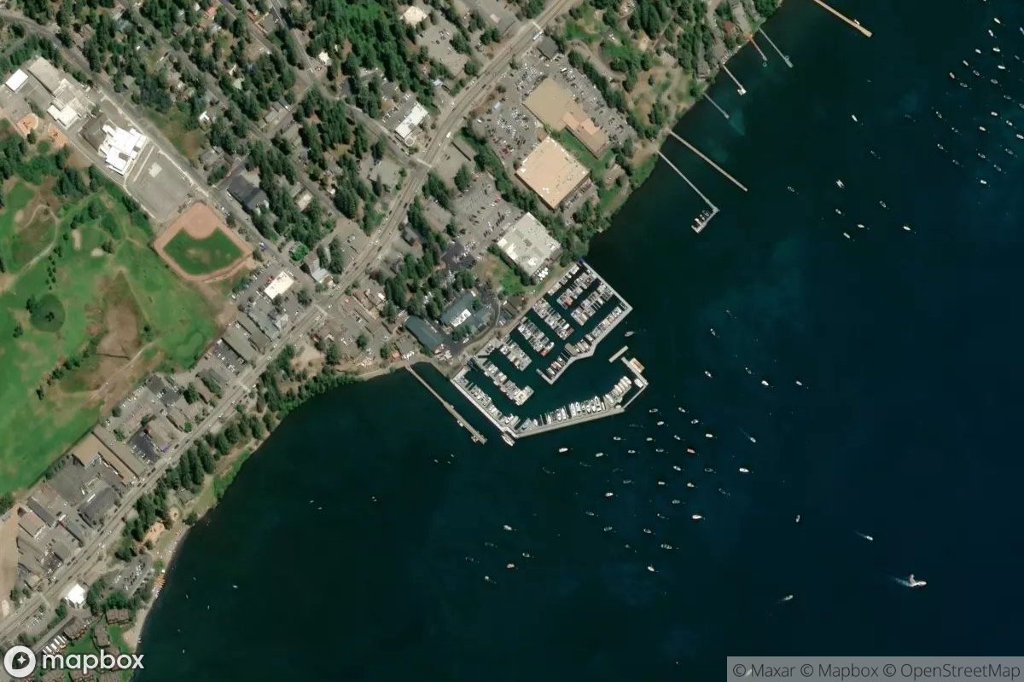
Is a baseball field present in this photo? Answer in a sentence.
Yes, there's a baseball field down there.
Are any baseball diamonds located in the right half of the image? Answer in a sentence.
No, no baseball diamond is visible in the right half of the image.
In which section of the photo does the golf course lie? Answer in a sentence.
The golf course is located in the left region of the scene.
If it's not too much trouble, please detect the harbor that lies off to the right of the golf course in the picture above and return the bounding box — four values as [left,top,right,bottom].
[450,260,648,440]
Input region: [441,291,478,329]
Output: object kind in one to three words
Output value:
building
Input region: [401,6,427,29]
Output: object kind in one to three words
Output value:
house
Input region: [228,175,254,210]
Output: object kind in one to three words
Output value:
building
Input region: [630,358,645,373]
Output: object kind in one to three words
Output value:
ship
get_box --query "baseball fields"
[153,198,253,284]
